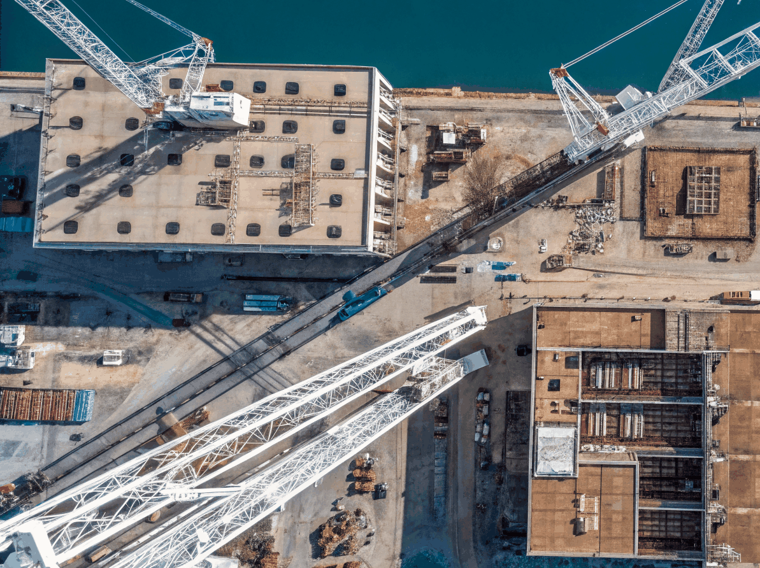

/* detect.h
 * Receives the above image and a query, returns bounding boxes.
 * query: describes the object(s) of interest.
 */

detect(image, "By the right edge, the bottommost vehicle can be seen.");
[724,290,760,303]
